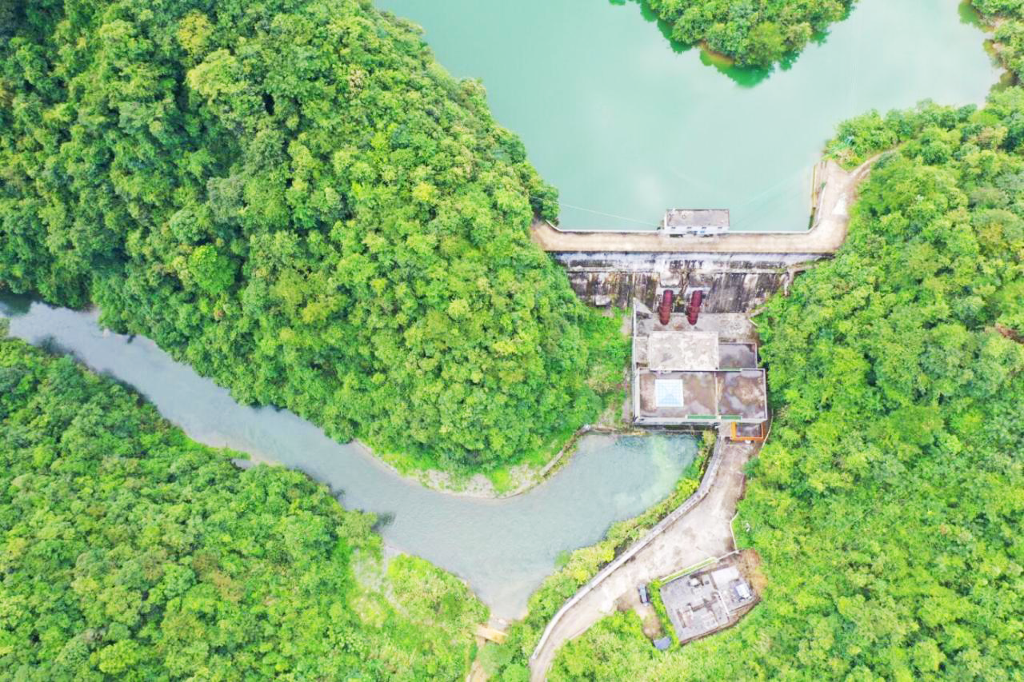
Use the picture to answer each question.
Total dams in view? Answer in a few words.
one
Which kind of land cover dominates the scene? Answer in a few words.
trees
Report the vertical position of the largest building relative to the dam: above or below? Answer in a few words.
below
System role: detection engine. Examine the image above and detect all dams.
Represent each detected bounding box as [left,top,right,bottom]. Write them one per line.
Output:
[530,146,896,313]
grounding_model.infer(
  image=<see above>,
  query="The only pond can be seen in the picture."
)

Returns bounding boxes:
[375,0,1006,232]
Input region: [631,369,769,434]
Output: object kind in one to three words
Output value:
building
